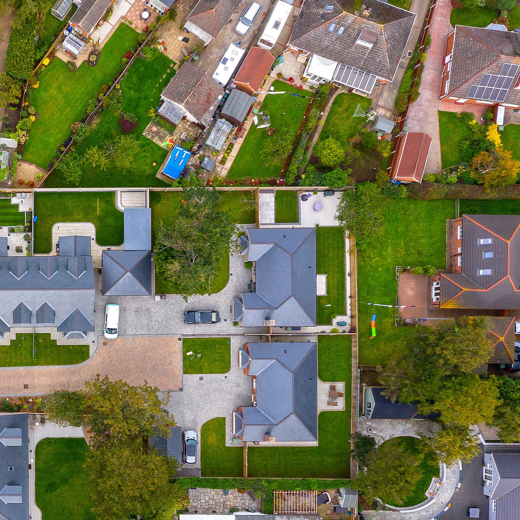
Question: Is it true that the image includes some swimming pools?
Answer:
Yes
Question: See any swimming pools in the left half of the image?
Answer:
Yes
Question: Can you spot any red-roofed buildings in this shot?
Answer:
Yes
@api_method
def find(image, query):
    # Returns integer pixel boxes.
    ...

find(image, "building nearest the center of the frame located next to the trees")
[230,227,317,327]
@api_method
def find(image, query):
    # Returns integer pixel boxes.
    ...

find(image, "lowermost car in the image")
[183,430,199,465]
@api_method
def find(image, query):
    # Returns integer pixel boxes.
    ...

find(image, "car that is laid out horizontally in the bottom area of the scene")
[183,309,219,325]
